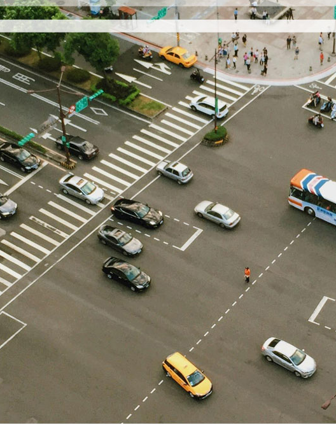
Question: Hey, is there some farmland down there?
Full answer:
No, no farmland is visible.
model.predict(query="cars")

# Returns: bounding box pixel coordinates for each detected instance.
[94,226,147,259]
[162,349,213,401]
[153,162,198,188]
[54,136,101,162]
[158,45,201,67]
[260,339,318,380]
[192,203,243,232]
[99,258,153,293]
[112,199,163,229]
[0,143,41,173]
[57,174,106,205]
[0,192,19,220]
